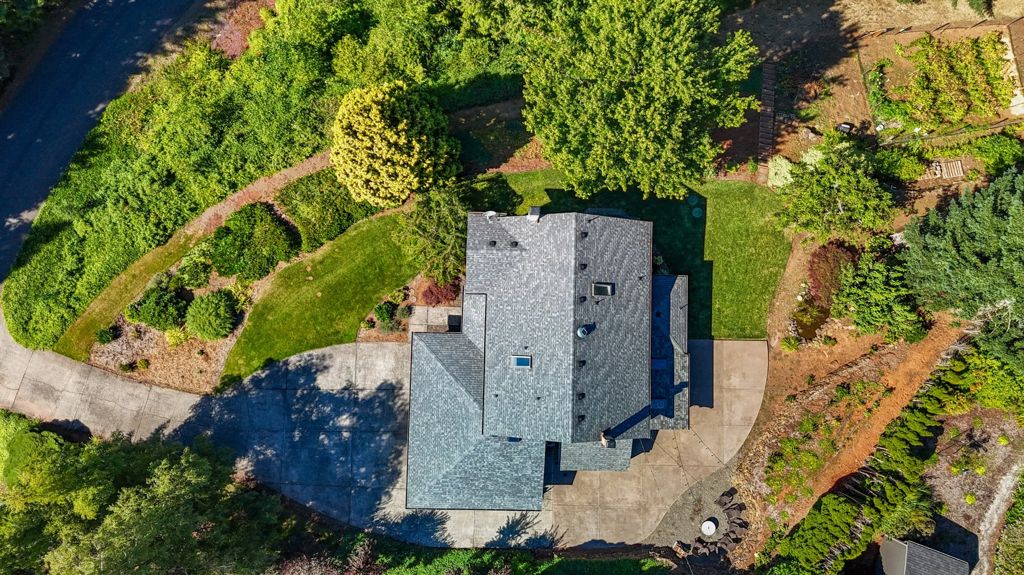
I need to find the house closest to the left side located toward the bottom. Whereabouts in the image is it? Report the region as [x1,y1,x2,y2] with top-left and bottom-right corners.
[404,208,691,512]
